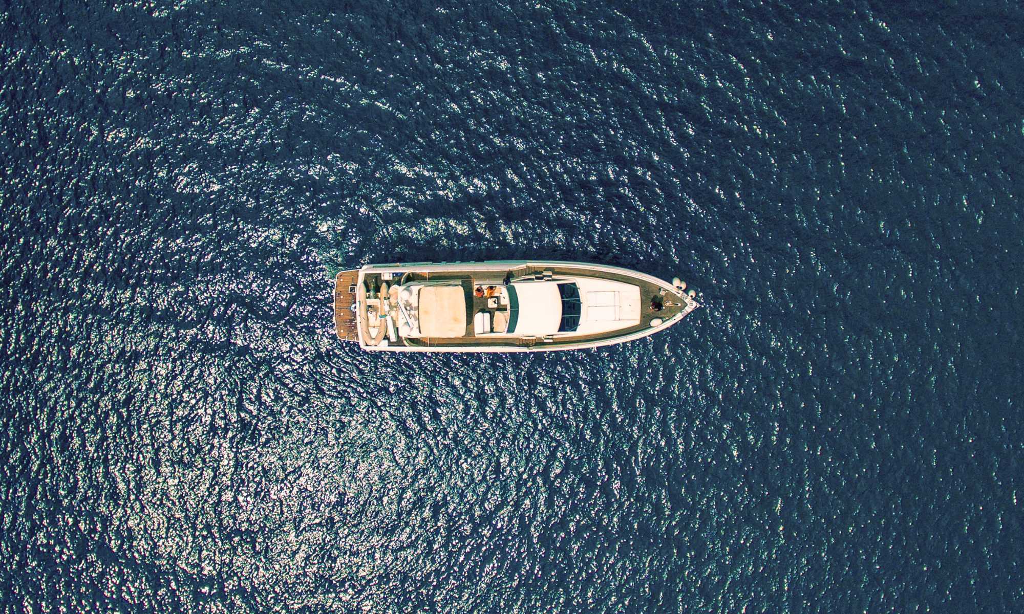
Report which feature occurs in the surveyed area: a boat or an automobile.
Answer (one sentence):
I can see a boat in this picture.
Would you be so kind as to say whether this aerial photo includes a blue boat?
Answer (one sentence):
No, this view has no blue boat in it.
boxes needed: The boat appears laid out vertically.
[362,278,388,343]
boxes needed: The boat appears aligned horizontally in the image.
[336,261,705,352]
